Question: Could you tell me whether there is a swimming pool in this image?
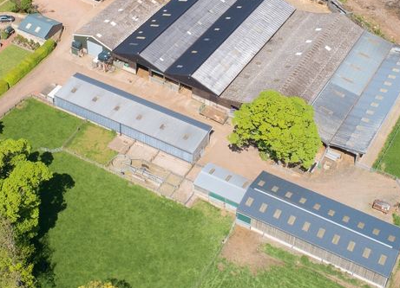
No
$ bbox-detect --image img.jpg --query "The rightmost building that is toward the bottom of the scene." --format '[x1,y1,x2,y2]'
[236,170,400,288]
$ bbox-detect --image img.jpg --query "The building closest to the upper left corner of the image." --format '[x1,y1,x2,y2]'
[18,14,63,43]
